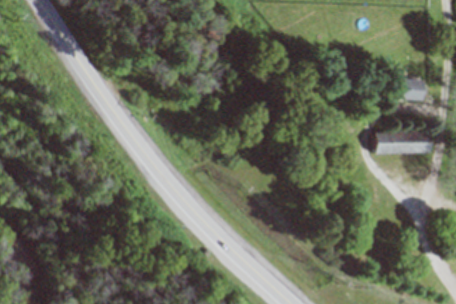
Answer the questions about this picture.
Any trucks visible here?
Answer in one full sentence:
No, I can't see a single truck in this photo.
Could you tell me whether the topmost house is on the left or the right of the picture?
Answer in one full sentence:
You can find the topmost house on the right side of the picture.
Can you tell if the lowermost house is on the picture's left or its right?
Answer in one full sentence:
You can find the lowermost house on the right side of the picture.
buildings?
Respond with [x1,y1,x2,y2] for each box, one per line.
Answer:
[376,130,434,154]
[404,76,428,101]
